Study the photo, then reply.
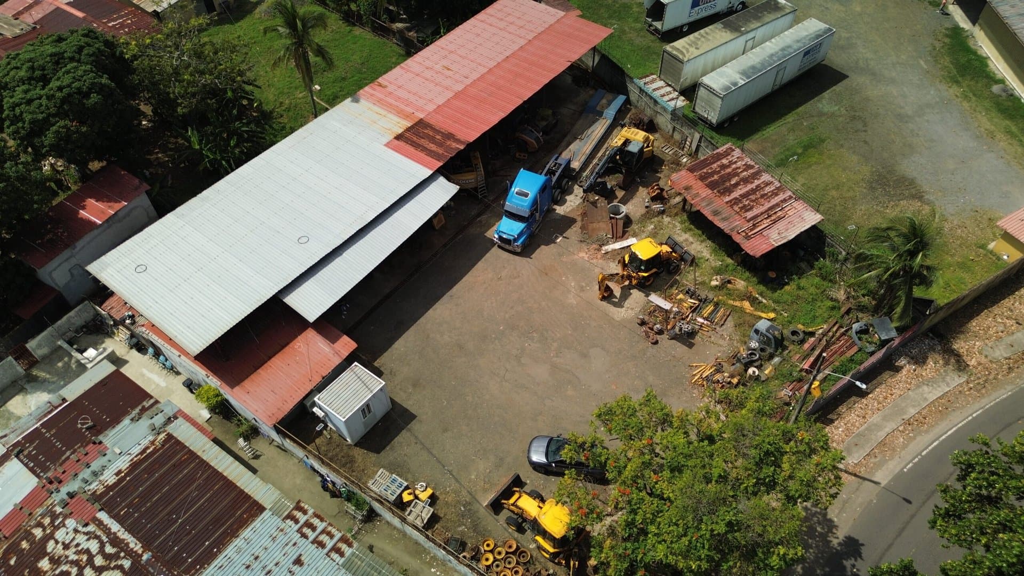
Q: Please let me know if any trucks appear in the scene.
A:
Yes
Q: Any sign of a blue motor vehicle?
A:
Yes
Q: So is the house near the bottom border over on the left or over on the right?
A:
left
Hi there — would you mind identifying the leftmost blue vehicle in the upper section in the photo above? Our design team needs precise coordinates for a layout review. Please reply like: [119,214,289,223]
[493,165,574,253]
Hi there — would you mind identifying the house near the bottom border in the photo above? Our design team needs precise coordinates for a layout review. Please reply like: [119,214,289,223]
[0,359,399,576]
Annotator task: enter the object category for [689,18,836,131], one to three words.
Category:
trailer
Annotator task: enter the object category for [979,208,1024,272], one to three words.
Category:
shed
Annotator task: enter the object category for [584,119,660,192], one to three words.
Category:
work vehicle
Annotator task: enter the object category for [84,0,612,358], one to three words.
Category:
shed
